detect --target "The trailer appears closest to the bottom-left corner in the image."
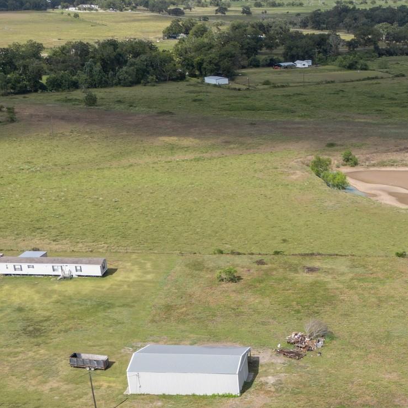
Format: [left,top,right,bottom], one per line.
[68,350,114,370]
